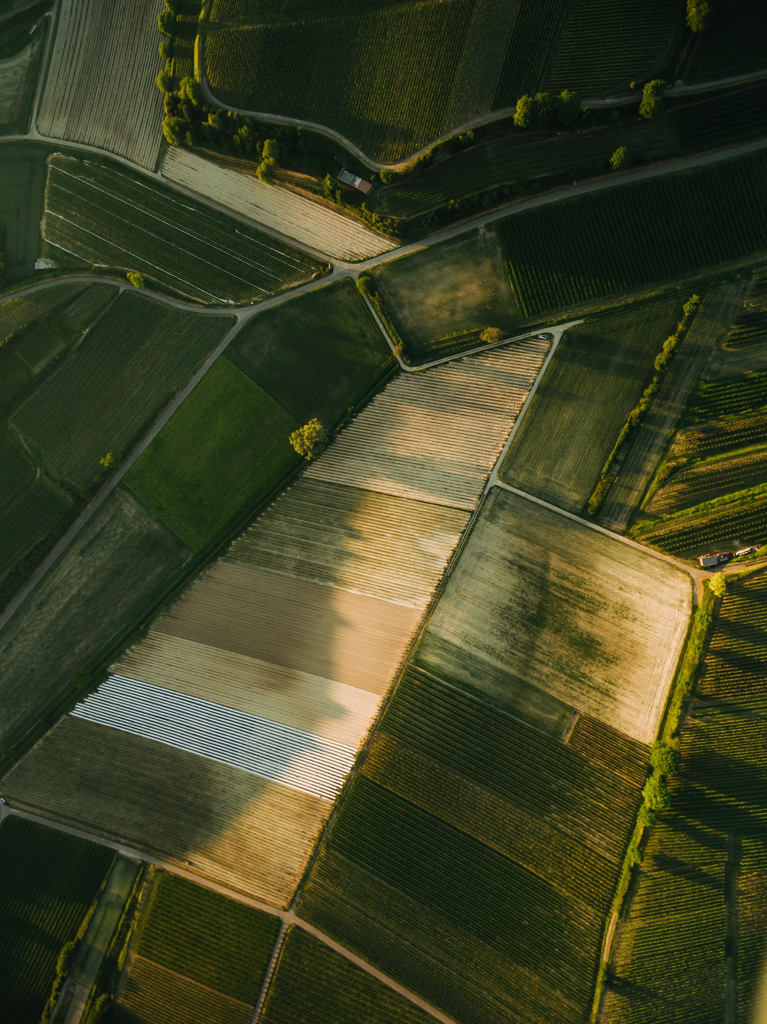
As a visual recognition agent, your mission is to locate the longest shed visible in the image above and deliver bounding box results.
[338,167,374,197]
